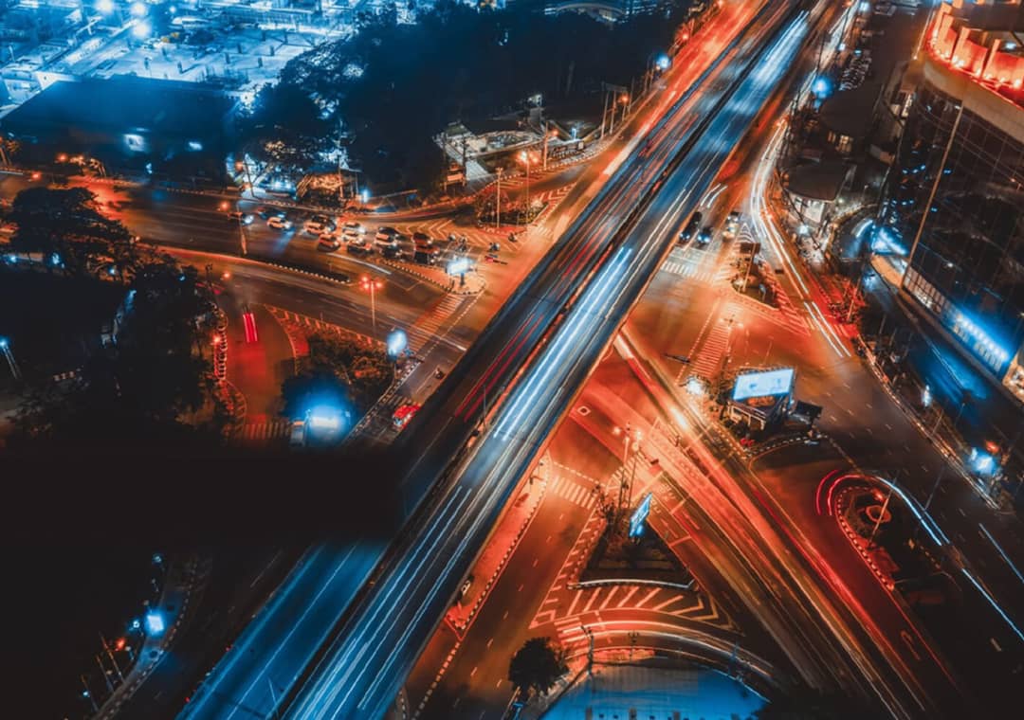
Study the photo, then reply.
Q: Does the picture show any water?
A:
No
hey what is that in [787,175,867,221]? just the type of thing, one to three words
building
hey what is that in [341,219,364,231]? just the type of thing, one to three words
vehicle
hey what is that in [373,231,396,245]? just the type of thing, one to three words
car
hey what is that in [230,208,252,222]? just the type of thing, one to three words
car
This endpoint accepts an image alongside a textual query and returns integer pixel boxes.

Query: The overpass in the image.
[167,0,833,720]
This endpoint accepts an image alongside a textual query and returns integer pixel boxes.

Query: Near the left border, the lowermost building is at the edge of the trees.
[0,92,262,190]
